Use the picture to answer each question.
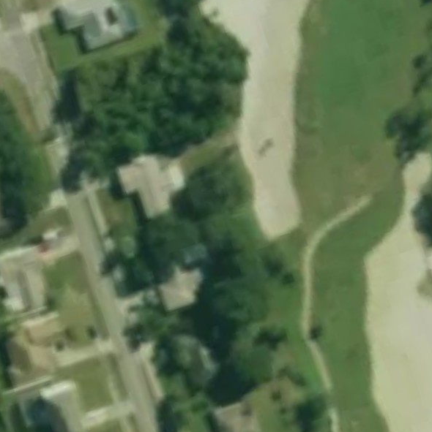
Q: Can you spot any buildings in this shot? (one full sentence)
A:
Yes, a building can be made out from above.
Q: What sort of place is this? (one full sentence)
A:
The area seen from above is a golf course.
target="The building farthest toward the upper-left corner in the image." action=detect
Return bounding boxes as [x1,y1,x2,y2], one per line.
[53,0,142,53]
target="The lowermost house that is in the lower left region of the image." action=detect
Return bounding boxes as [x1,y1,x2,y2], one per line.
[26,378,85,432]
